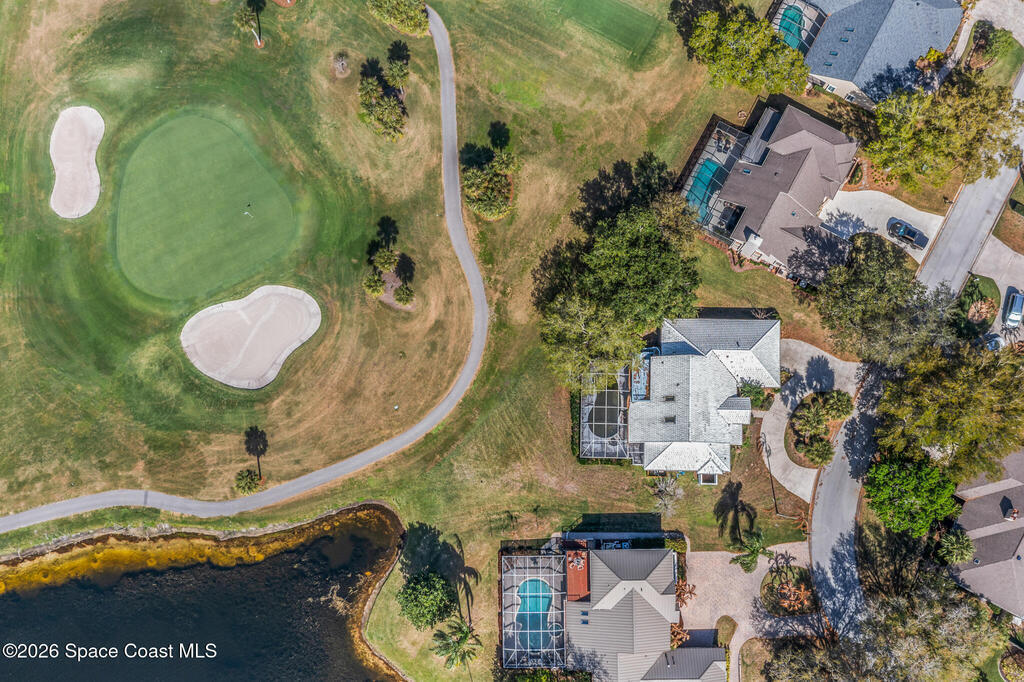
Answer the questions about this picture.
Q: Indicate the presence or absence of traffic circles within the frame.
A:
No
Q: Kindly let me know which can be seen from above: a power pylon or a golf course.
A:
golf course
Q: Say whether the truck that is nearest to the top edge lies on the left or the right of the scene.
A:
right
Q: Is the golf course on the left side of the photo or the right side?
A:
left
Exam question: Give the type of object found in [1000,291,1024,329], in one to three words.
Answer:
car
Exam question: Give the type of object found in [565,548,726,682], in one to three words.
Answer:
house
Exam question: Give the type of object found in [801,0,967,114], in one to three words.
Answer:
house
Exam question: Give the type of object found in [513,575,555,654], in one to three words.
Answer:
swimming pool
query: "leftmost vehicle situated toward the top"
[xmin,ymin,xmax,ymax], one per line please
[885,217,932,251]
